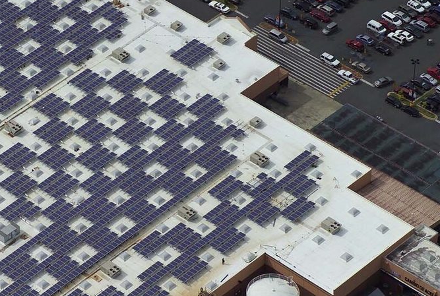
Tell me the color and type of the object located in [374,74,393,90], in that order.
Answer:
gray car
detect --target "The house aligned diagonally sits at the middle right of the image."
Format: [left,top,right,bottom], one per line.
[310,103,440,206]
